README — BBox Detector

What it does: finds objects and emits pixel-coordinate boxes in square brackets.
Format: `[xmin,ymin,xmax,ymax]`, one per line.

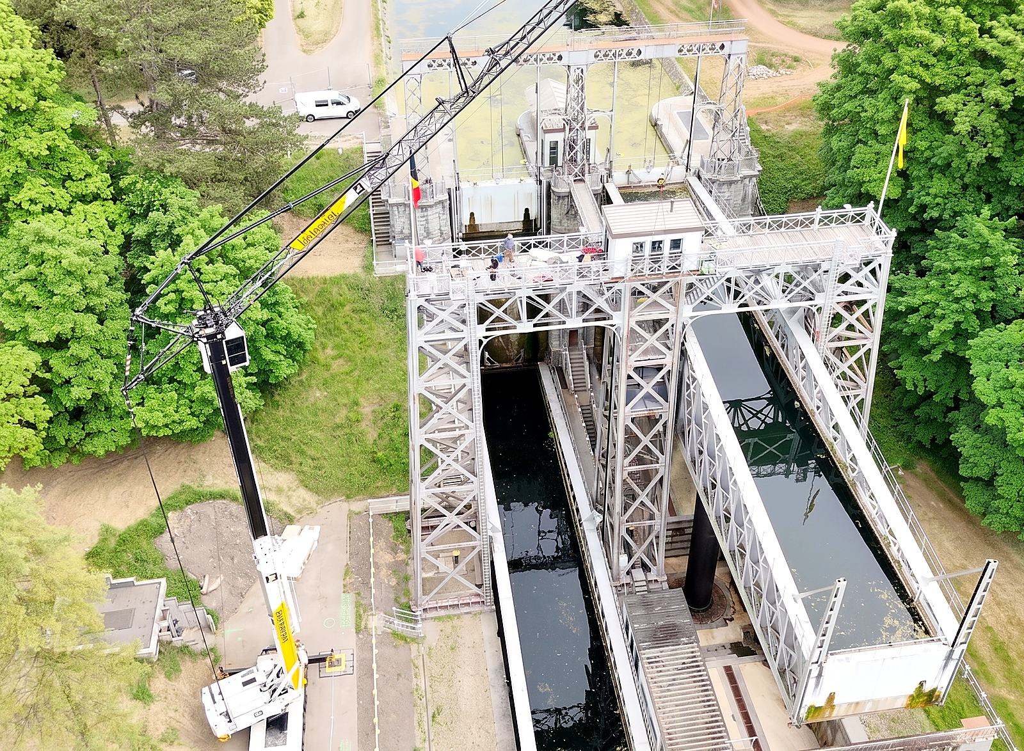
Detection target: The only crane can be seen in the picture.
[120,0,587,751]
